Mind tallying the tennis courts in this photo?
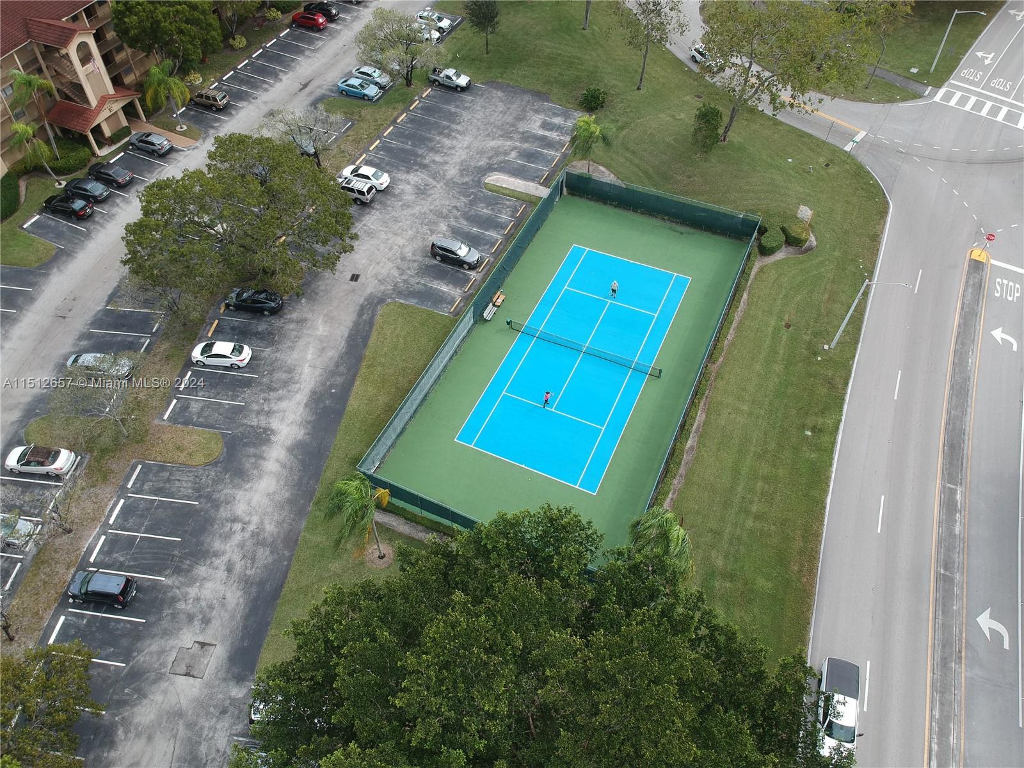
one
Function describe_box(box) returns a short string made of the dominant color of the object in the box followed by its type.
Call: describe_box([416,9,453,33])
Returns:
white car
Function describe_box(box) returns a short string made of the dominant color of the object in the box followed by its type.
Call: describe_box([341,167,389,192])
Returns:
white car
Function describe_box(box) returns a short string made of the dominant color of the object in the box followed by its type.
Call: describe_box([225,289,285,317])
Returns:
black car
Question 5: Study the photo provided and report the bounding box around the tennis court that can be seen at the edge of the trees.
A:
[376,195,747,594]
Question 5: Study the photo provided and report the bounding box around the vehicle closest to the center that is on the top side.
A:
[429,236,481,269]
